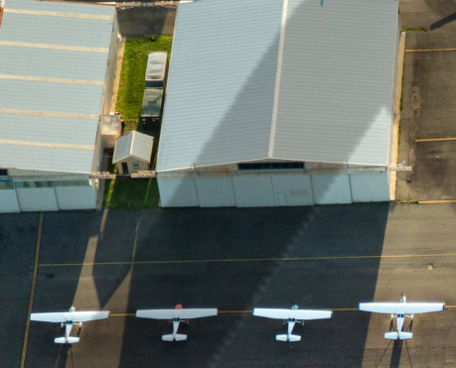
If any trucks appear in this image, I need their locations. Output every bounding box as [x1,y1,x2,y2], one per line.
[146,52,169,97]
[142,90,163,138]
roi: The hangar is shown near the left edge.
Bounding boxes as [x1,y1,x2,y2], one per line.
[0,0,146,213]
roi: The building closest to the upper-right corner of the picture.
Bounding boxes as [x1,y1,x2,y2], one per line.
[131,0,411,208]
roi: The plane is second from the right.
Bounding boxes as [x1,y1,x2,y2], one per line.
[254,302,333,343]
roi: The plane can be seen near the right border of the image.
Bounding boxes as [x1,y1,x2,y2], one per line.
[359,293,445,339]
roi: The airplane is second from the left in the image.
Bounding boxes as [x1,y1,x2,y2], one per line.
[136,299,218,343]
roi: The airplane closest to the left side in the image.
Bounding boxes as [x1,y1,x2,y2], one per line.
[30,305,109,345]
